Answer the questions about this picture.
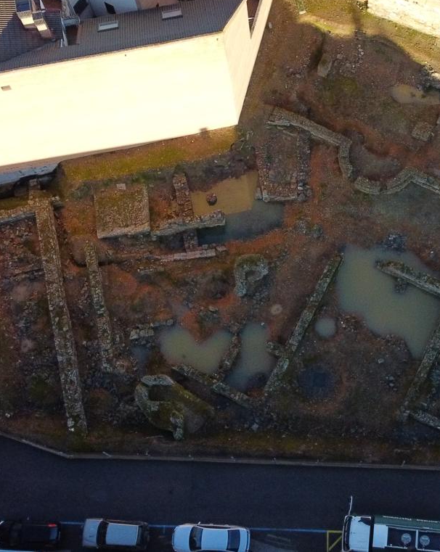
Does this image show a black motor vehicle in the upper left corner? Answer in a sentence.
No, there's no black motor vehicle to be seen in the upper left corner.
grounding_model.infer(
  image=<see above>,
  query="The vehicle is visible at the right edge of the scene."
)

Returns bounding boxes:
[338,494,440,552]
